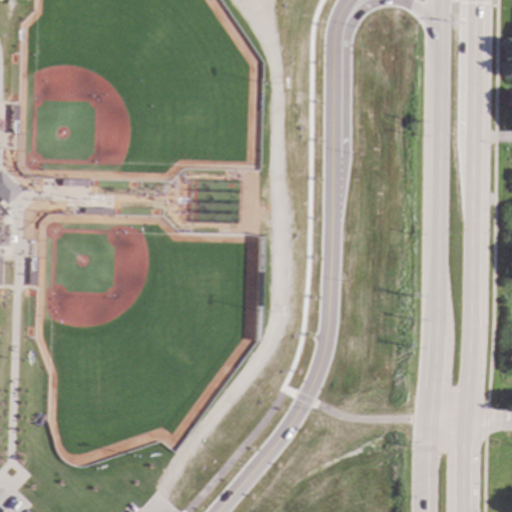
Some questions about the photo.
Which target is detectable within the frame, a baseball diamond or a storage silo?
baseball diamond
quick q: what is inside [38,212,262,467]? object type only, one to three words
baseball field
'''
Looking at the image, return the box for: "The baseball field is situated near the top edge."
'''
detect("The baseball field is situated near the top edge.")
[17,0,263,182]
